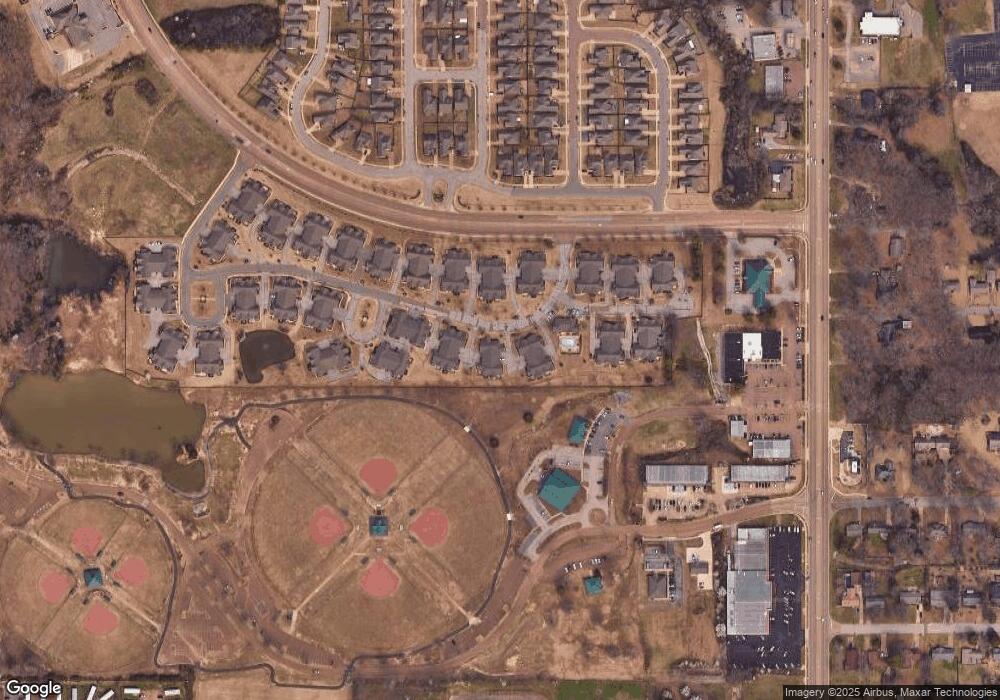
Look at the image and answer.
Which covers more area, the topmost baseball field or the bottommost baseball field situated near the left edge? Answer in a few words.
the topmost baseball field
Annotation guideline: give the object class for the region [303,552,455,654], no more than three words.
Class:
baseball field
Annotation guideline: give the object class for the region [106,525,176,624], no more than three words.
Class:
baseball field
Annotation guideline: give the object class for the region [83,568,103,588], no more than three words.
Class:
building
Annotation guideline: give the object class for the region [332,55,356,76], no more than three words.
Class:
house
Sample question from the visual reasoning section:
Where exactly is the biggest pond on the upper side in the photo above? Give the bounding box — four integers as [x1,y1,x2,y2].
[48,232,125,294]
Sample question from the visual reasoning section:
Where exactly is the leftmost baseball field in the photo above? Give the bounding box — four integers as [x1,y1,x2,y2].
[2,540,80,641]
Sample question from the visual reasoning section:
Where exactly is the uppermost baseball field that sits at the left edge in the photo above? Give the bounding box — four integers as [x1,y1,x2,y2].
[42,504,127,564]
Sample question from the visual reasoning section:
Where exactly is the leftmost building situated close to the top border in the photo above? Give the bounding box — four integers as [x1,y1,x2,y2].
[50,4,91,46]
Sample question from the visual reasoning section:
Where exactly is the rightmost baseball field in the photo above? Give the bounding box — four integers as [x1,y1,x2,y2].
[400,457,506,596]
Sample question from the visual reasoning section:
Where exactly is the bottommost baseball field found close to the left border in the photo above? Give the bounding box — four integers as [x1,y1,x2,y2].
[44,595,146,669]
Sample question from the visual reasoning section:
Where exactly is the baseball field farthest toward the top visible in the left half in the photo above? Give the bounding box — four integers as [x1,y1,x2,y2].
[306,399,450,504]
